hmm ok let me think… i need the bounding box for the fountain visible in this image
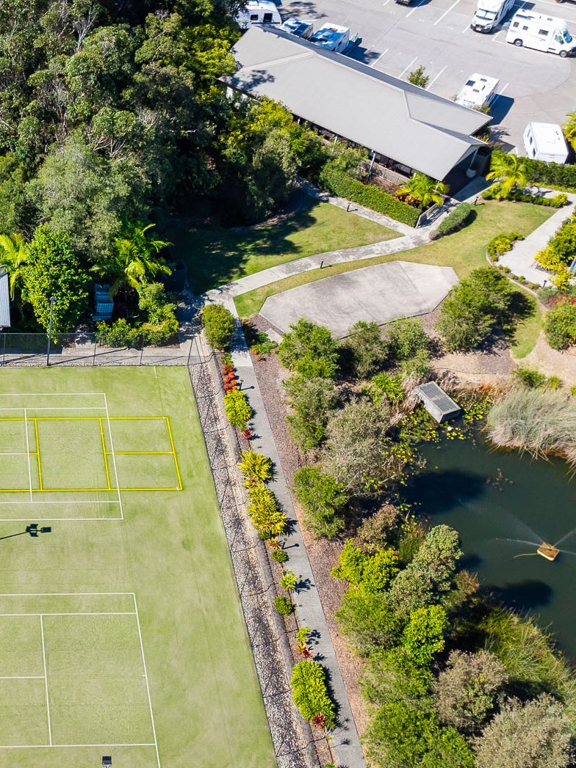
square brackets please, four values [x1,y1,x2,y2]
[515,542,559,559]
